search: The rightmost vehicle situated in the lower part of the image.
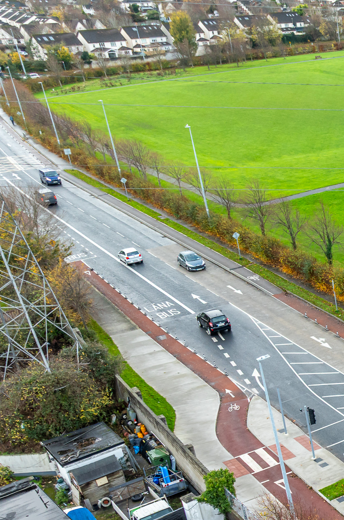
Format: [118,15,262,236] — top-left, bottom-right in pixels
[194,308,232,336]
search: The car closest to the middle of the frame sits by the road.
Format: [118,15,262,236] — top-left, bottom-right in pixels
[175,248,206,270]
